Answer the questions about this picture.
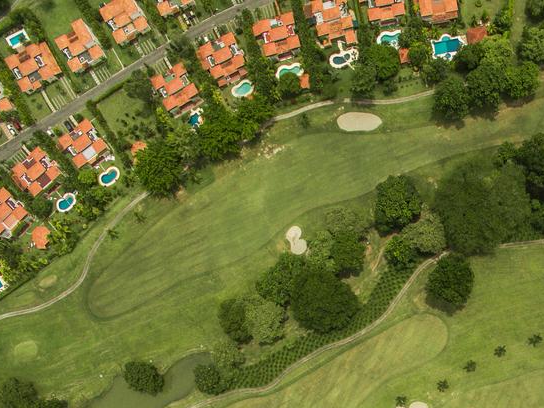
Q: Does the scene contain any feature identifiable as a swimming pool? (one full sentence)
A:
Yes, the picture does show a swimming pool.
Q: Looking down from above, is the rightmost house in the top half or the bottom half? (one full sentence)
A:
Seen from above, the rightmost house lies in the top half of the view.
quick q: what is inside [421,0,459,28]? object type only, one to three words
house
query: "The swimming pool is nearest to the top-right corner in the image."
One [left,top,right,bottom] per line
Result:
[433,33,464,58]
